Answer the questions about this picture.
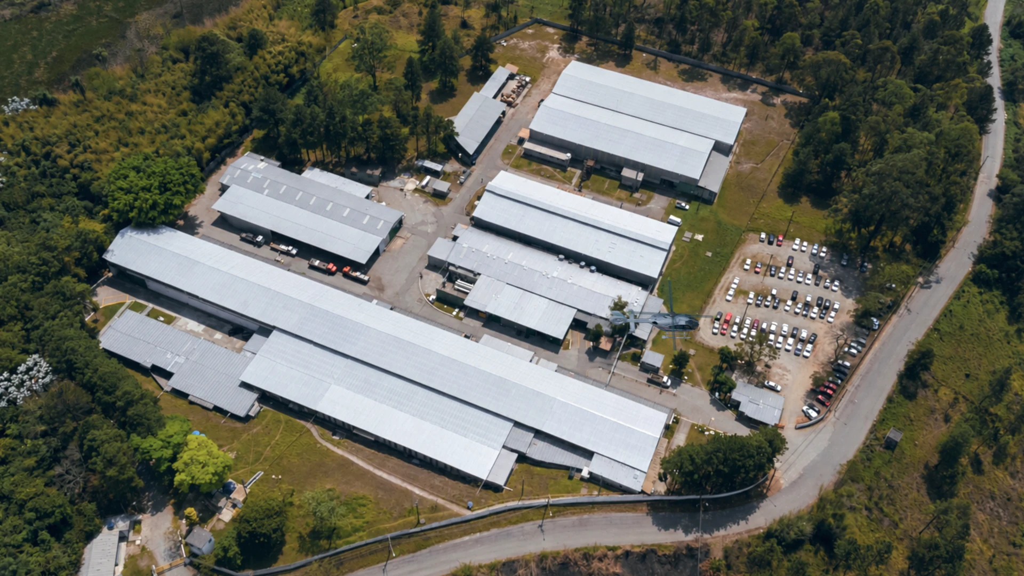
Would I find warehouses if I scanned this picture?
Yes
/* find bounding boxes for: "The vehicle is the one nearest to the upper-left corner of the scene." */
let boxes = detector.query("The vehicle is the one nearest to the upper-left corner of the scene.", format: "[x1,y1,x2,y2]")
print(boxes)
[240,233,267,247]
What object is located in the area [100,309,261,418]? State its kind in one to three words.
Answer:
building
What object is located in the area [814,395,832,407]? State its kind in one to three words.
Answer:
vehicle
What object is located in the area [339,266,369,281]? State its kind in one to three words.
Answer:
vehicle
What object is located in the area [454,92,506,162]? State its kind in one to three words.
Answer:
shed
